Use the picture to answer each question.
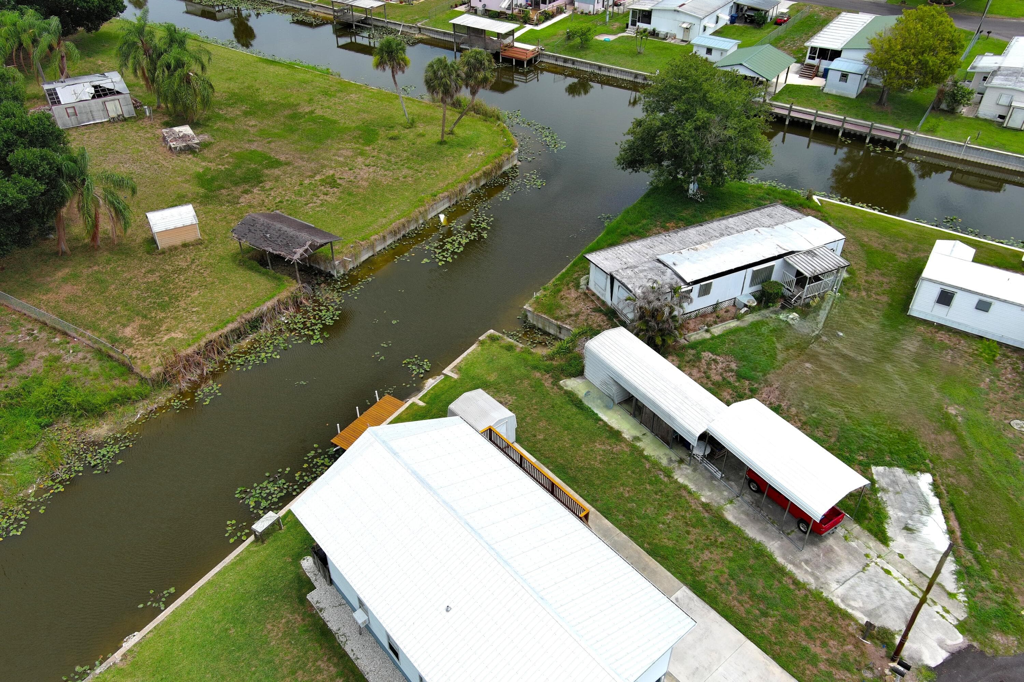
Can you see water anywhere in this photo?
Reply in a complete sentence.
Yes, there is water in the image.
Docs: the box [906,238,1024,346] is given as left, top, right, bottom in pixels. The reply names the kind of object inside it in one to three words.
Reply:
house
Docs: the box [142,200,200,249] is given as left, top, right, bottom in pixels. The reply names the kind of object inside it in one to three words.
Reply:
shed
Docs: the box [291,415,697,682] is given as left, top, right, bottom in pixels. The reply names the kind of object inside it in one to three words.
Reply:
house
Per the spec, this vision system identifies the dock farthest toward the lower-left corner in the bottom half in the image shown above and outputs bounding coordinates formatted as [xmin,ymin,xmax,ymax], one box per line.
[330,390,405,460]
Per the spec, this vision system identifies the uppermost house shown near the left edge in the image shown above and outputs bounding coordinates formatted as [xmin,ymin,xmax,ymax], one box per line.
[45,74,136,126]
